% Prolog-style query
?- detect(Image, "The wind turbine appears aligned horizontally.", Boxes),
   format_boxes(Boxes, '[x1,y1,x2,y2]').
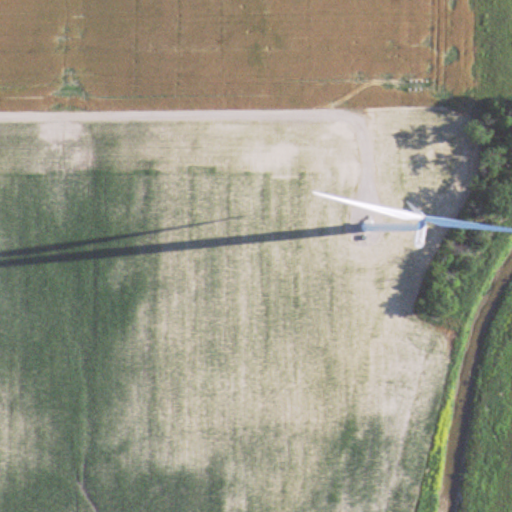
[314,191,512,248]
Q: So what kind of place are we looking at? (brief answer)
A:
farmland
